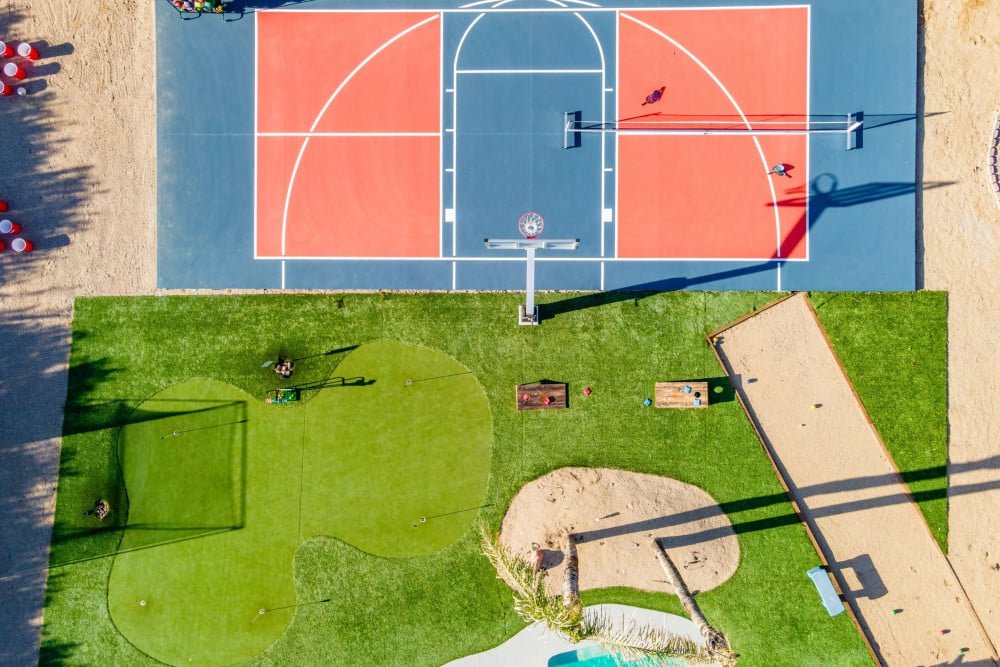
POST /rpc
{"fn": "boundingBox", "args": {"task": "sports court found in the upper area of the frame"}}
[155,0,918,291]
